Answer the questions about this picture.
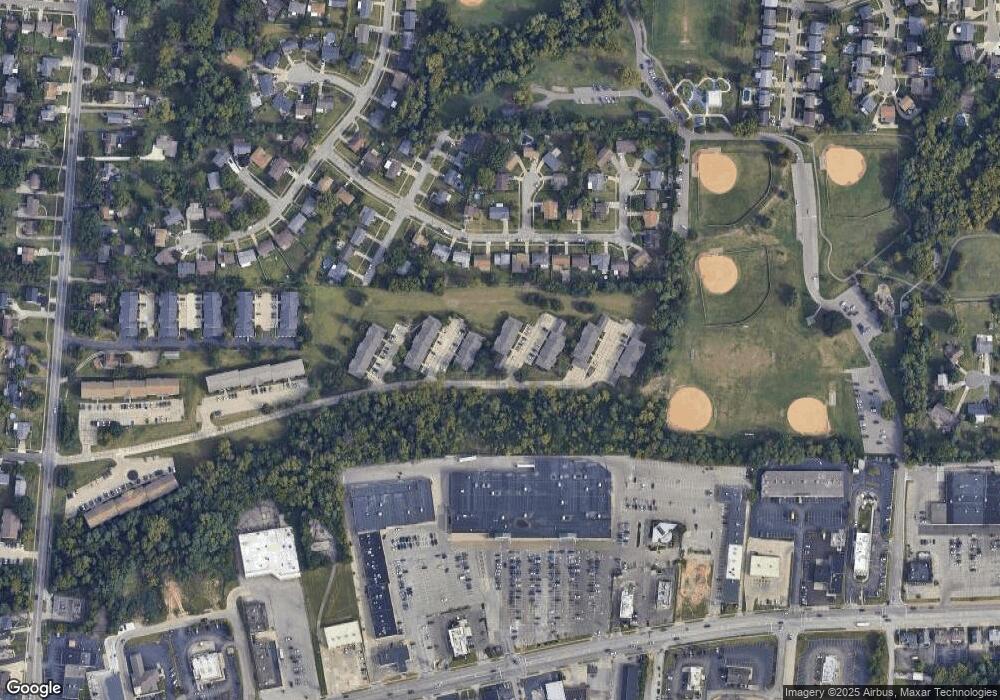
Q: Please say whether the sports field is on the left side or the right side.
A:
right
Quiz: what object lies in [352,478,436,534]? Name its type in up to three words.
building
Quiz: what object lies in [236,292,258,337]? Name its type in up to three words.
building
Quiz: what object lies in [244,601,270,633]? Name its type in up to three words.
shed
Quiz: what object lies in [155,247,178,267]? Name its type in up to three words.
house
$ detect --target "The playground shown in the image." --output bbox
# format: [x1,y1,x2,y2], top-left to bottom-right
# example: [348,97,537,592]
[681,82,728,111]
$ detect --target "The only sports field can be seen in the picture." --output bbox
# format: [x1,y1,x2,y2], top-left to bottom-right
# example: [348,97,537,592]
[653,0,734,48]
